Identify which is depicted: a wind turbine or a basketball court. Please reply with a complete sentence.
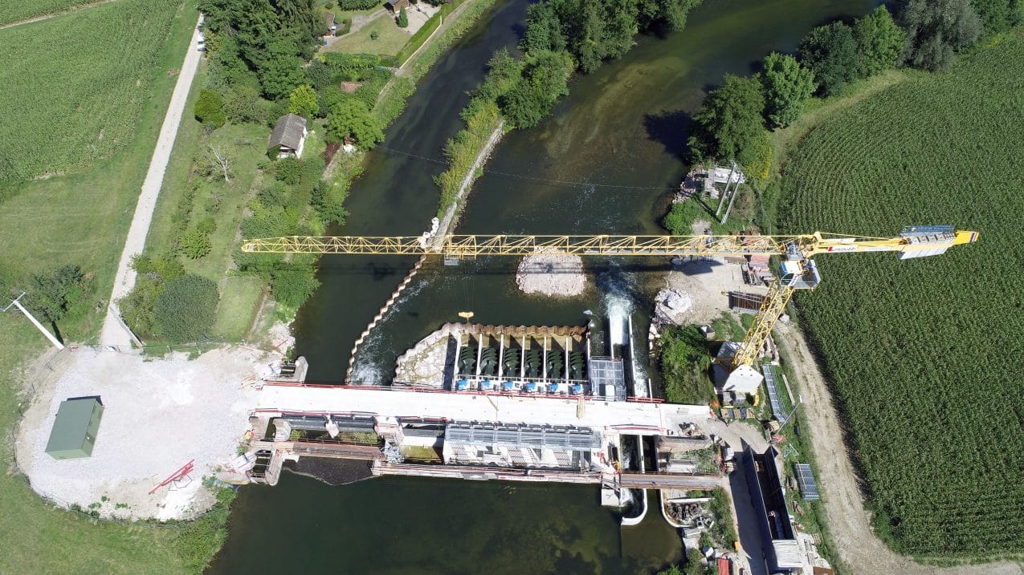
It is a wind turbine that can be seen here.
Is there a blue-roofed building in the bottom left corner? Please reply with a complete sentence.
No, the scene shows no blue-roofed building in the bottom left corner.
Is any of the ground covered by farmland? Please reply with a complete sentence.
Yes, there's farmland in this view.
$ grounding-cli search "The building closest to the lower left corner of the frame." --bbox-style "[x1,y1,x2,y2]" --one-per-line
[44,396,102,459]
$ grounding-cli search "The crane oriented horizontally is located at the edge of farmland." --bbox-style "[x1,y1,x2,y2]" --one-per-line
[243,217,976,397]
